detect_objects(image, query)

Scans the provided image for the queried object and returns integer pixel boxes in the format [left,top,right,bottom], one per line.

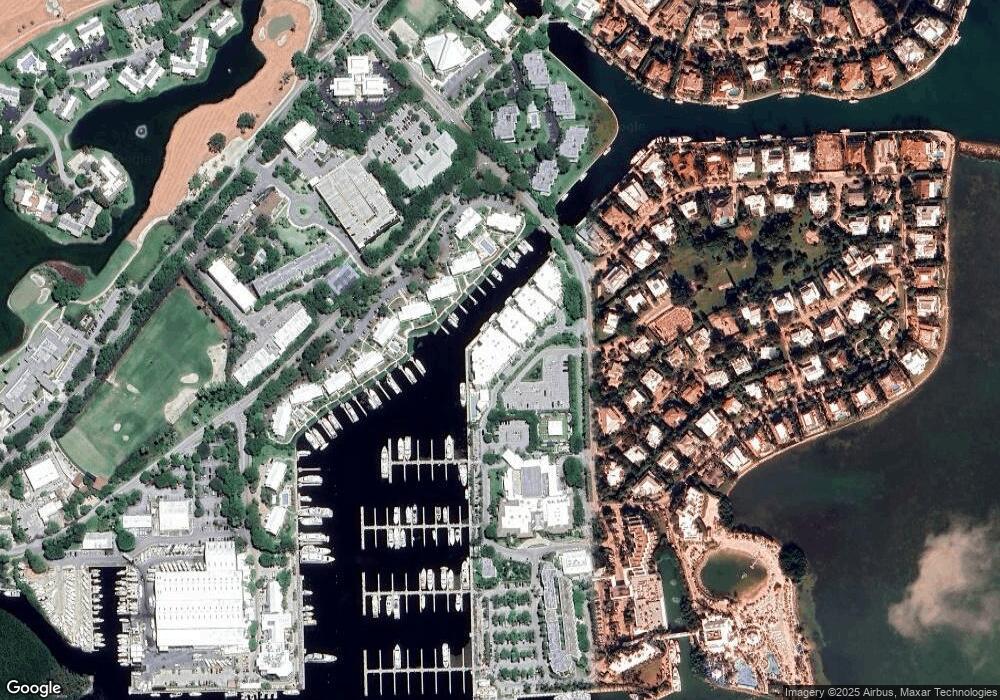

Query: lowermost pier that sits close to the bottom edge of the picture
[364,648,475,696]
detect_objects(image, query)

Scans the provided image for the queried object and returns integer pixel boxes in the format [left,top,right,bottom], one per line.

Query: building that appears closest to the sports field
[386,17,419,49]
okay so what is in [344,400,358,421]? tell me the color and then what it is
white boat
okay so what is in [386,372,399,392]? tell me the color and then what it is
white boat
